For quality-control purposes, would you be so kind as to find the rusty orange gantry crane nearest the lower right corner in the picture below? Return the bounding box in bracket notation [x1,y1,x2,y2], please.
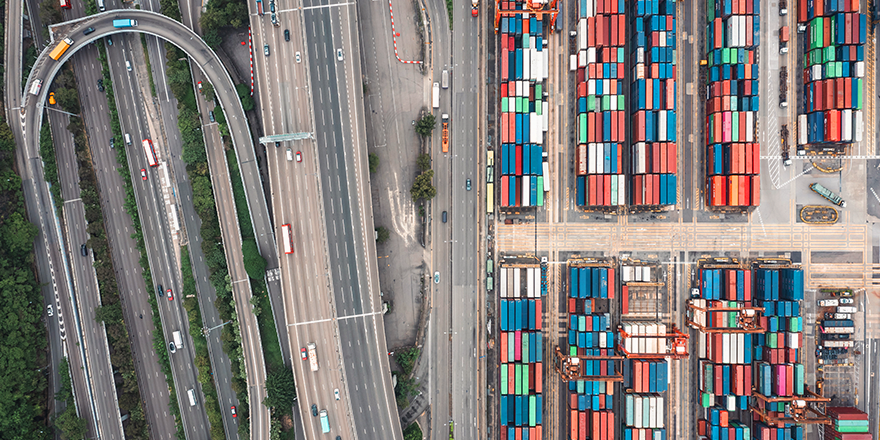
[748,383,833,425]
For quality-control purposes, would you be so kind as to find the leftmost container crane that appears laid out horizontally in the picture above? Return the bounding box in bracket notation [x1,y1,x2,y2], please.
[494,0,560,29]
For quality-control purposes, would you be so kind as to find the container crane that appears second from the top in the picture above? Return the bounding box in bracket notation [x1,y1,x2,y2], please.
[687,298,767,333]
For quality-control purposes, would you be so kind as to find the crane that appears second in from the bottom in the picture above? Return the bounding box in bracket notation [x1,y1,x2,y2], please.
[559,343,625,382]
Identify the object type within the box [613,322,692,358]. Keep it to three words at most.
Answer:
container crane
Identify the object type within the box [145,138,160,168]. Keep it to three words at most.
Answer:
vehicle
